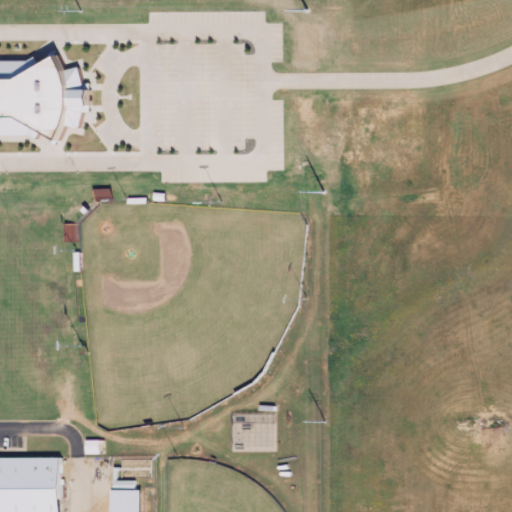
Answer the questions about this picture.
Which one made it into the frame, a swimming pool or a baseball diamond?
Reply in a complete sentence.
The image shows a baseball diamond.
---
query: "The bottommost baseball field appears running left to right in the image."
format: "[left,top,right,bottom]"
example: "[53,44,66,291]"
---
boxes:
[168,458,276,512]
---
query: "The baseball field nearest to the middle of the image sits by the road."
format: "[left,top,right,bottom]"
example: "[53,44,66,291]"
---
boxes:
[76,203,306,430]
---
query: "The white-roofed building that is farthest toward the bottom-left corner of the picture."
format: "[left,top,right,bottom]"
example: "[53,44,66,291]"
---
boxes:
[0,458,62,512]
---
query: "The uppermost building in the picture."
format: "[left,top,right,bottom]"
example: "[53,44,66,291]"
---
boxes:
[0,56,93,140]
